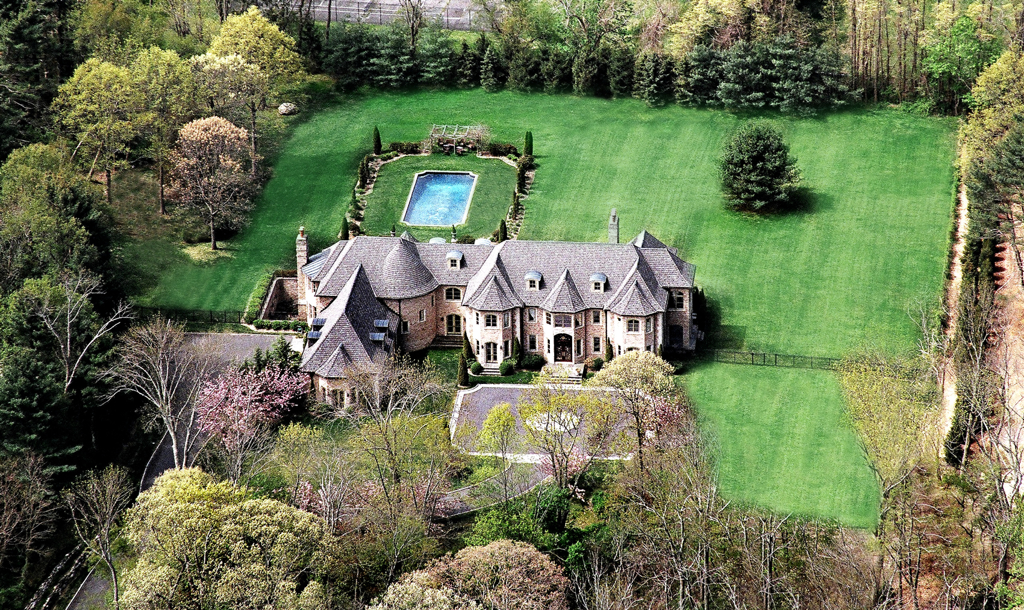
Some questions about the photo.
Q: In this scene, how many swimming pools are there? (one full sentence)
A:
There is 1 swimming pool in the image.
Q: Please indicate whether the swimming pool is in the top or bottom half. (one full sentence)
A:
You can find the swimming pool in the top half.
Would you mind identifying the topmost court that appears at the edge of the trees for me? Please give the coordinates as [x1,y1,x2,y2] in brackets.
[284,0,514,29]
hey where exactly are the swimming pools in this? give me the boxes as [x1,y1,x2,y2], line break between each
[403,171,478,225]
